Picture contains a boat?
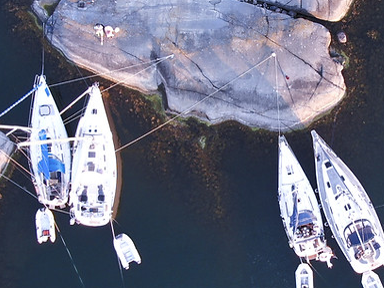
Yes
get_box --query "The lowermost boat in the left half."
[115,233,140,270]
